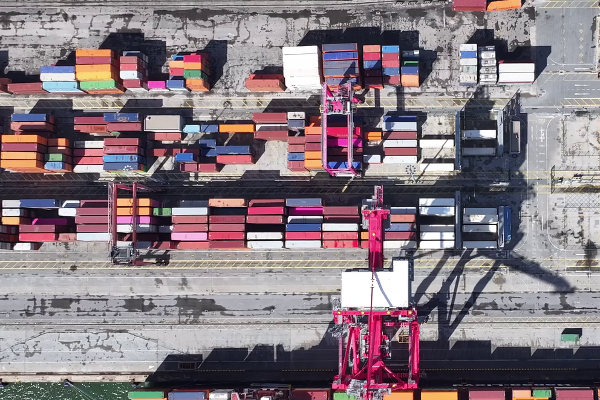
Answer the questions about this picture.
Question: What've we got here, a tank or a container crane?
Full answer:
Of the two, only a container crane appears.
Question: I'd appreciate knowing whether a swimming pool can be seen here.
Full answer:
No, there appears to be no swimming pool in this shot.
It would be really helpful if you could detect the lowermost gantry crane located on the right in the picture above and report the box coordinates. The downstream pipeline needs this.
[331,182,425,400]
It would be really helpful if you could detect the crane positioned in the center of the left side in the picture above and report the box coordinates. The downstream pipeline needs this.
[109,184,164,266]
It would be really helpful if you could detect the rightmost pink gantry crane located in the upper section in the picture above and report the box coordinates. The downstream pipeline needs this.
[322,91,363,177]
